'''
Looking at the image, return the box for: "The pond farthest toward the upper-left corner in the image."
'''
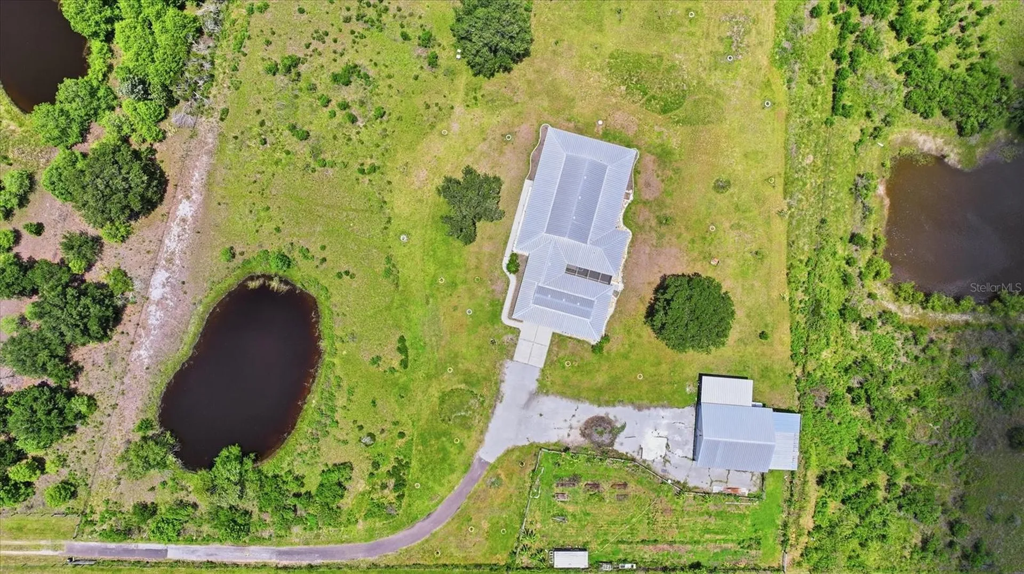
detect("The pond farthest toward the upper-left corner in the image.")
[0,0,91,113]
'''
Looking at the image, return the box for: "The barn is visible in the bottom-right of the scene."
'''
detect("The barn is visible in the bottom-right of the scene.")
[693,375,801,473]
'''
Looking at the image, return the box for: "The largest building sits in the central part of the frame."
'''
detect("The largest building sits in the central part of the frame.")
[512,126,638,341]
